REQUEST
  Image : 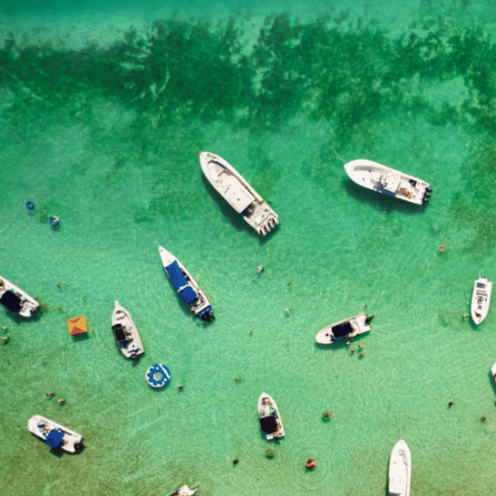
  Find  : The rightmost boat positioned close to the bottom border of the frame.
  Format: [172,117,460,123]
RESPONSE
[388,440,412,496]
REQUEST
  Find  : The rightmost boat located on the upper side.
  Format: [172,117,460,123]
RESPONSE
[333,152,434,206]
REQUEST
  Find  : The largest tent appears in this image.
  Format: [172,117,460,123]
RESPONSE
[67,315,88,336]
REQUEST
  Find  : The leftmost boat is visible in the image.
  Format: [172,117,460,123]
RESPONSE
[0,276,49,319]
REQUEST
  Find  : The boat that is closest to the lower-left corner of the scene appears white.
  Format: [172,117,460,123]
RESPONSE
[30,415,90,451]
